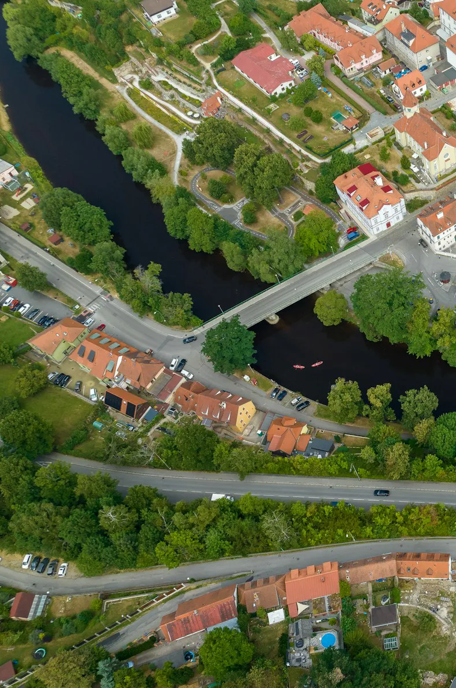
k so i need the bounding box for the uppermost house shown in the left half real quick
[138,0,177,24]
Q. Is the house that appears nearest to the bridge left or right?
right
